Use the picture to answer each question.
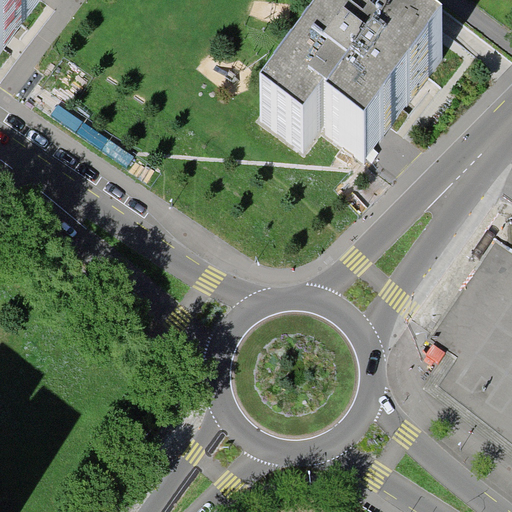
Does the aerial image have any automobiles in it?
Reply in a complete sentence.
Yes, the image includes an automobile.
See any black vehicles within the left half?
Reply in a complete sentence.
Yes, I can see a black vehicle within the left half.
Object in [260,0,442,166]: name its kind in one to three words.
building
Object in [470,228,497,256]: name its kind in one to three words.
truck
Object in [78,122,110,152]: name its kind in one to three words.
shed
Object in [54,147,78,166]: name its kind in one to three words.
car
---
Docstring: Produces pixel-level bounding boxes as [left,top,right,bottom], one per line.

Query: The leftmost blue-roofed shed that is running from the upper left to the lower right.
[52,106,84,134]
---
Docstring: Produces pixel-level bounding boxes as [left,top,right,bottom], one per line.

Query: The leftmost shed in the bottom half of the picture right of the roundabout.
[418,345,444,368]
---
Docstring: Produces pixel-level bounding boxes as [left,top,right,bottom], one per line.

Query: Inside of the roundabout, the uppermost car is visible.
[366,350,380,375]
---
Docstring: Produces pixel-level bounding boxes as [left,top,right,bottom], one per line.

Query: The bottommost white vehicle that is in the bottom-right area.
[378,394,396,416]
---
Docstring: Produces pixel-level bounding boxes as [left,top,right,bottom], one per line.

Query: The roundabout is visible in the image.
[204,282,388,466]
